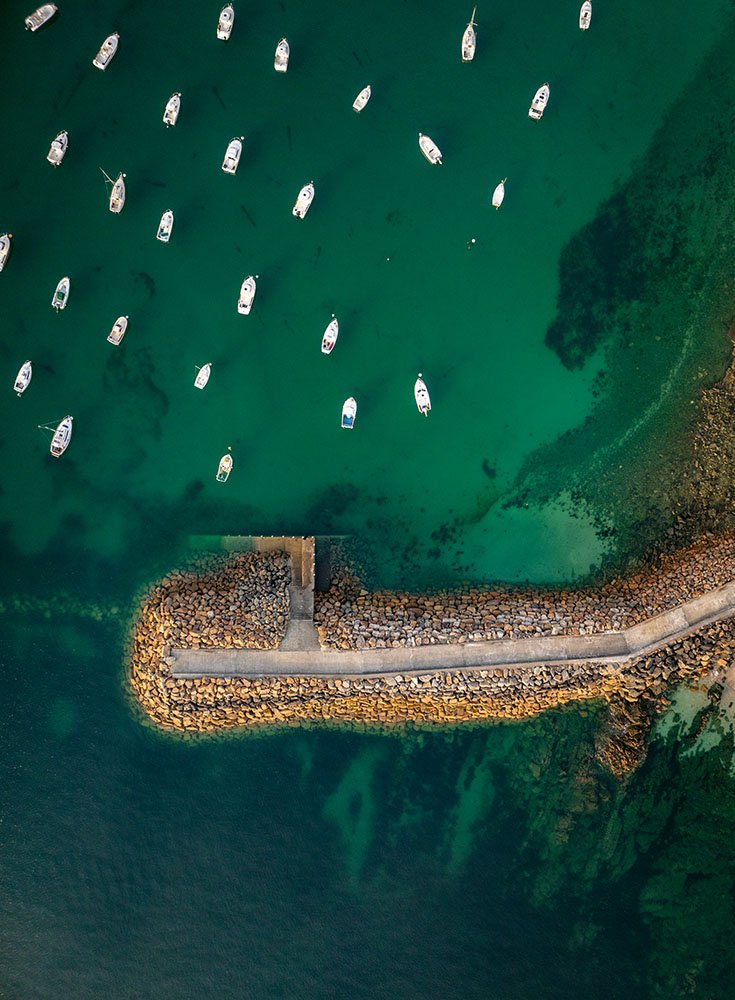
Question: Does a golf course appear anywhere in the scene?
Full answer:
No, this view has no golf course in it.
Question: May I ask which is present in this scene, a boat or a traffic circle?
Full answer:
Looking from above, you can make out a boat.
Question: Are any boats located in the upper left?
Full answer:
Yes, in the upper left there is a boat.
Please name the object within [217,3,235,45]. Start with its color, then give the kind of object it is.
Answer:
white boat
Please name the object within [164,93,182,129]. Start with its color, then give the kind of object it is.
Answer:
white boat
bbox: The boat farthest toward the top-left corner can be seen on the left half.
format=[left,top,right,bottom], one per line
[26,7,60,35]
